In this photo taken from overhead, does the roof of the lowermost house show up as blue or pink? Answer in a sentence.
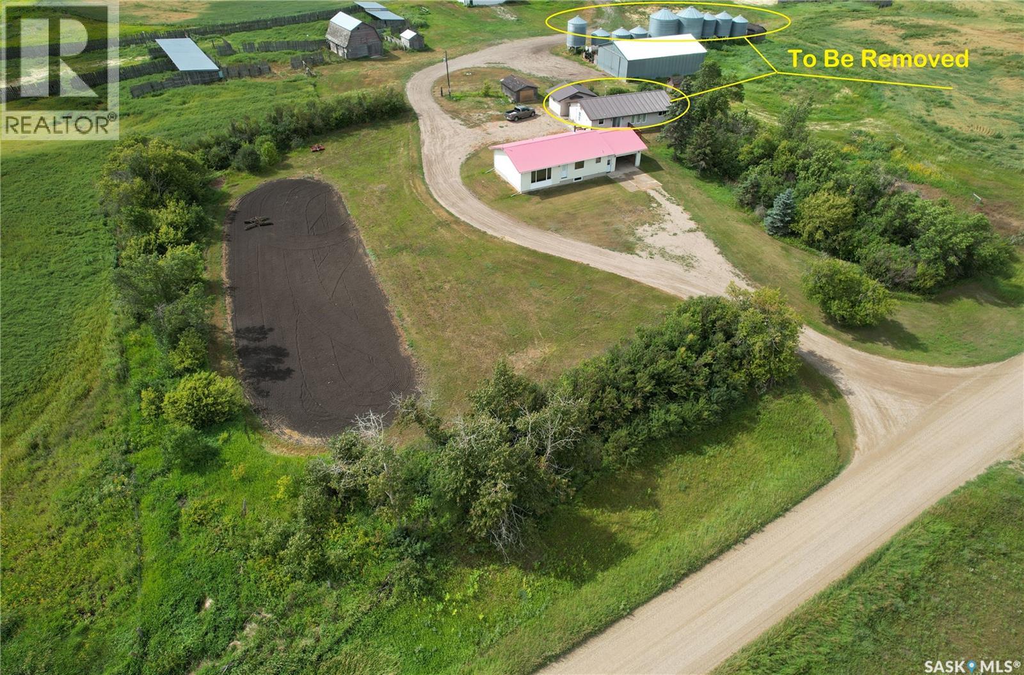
From above, the roof of the lowermost house appears pink.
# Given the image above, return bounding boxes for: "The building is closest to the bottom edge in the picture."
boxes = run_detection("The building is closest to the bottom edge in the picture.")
[486,129,648,197]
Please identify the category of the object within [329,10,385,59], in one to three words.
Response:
barn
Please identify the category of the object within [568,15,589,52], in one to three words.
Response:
silo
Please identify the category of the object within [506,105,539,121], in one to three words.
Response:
vehicle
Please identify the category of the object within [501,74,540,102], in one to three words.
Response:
building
